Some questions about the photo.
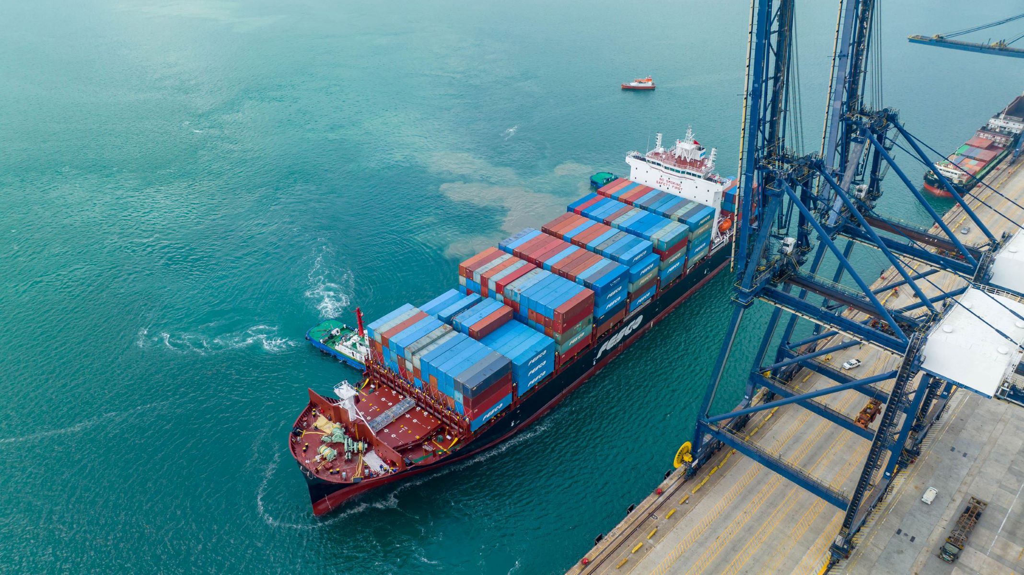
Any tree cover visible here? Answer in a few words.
No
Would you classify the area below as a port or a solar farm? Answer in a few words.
port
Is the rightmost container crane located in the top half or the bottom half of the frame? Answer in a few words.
top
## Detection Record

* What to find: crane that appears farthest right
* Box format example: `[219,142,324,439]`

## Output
[908,8,1024,60]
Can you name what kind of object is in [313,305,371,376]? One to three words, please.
boat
